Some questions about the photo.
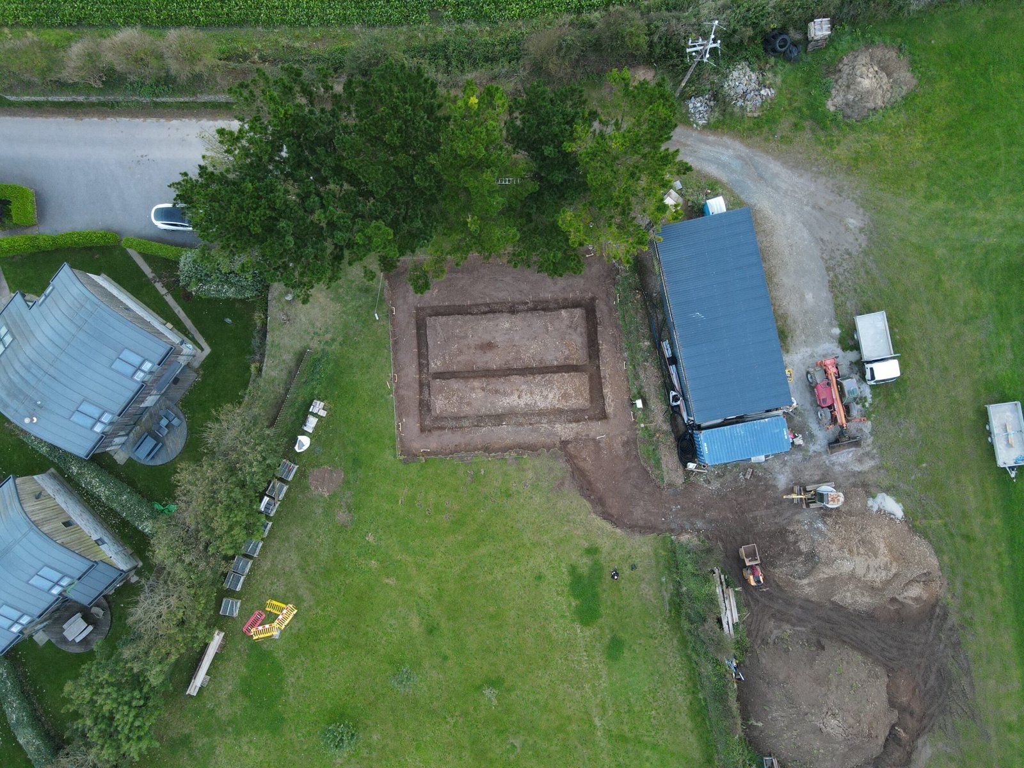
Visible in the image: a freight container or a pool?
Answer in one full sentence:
It is a freight container that can be seen here.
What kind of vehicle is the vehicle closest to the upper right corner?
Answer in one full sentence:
I'd identify the vehicle closest to the upper right corner as a truck.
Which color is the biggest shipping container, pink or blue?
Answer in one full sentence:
The color of the biggest shipping container is blue.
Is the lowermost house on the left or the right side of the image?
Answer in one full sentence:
The lowermost house appears in the left half of the scene.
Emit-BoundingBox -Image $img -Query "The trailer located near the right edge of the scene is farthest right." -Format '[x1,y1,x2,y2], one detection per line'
[980,400,1024,483]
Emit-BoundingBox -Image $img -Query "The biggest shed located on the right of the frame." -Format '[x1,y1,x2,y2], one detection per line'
[653,206,793,426]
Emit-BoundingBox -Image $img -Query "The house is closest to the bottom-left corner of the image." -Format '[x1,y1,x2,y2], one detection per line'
[0,462,151,658]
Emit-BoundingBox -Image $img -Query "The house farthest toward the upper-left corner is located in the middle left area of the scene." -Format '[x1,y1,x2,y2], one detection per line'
[0,263,210,460]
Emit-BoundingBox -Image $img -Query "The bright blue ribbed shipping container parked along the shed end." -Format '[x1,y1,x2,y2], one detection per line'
[689,413,793,467]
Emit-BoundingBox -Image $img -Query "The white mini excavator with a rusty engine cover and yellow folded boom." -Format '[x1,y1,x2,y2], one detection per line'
[786,481,847,509]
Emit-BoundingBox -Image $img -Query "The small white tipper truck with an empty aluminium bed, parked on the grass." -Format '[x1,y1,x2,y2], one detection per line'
[849,309,902,387]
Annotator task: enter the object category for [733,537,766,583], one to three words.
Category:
truck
